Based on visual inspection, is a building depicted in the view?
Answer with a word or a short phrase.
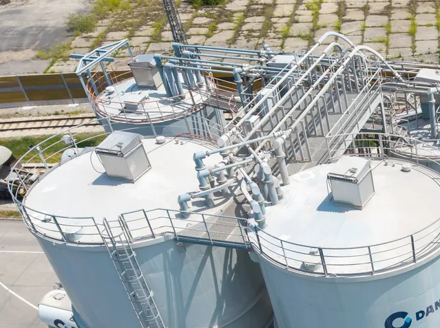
No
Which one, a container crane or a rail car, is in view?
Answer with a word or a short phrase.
rail car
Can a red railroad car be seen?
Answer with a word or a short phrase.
No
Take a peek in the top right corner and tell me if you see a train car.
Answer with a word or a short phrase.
No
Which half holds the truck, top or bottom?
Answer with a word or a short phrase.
bottom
